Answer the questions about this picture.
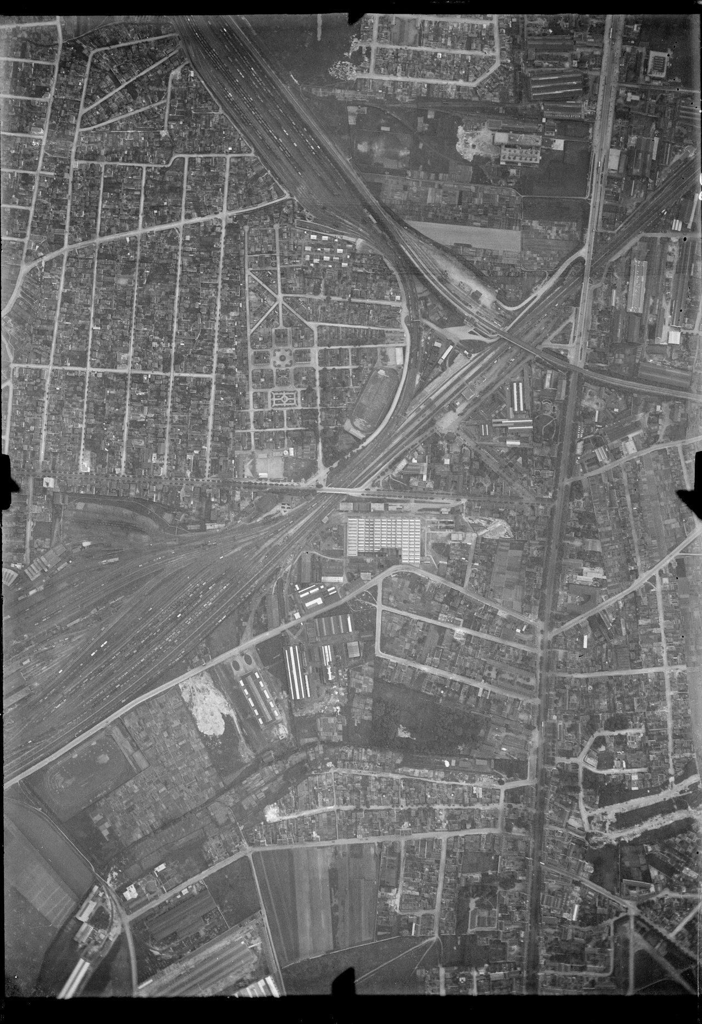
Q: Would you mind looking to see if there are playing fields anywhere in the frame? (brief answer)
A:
Yes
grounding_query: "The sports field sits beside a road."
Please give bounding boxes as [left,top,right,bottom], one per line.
[352,367,400,432]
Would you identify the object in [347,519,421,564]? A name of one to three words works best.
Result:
building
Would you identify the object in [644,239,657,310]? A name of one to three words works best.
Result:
shed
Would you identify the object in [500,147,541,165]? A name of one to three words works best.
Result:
building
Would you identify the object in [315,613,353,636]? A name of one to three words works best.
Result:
shed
